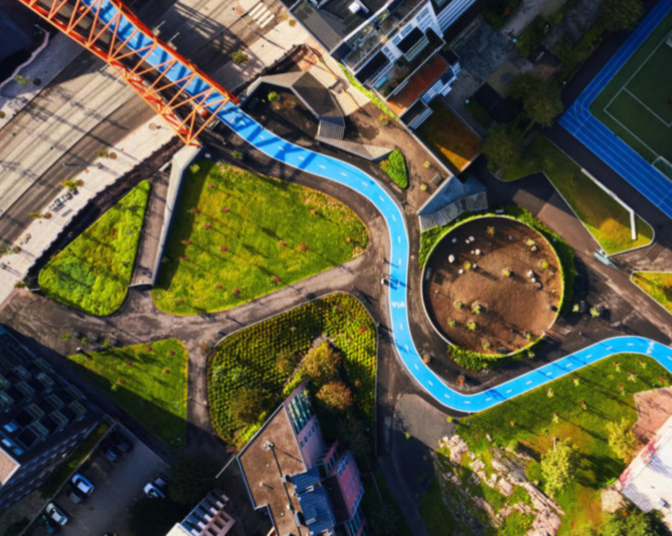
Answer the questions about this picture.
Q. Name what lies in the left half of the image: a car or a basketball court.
car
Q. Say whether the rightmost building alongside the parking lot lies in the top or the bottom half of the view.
bottom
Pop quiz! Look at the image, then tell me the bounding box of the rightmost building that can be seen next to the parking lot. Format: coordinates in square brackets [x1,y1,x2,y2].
[237,381,376,536]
